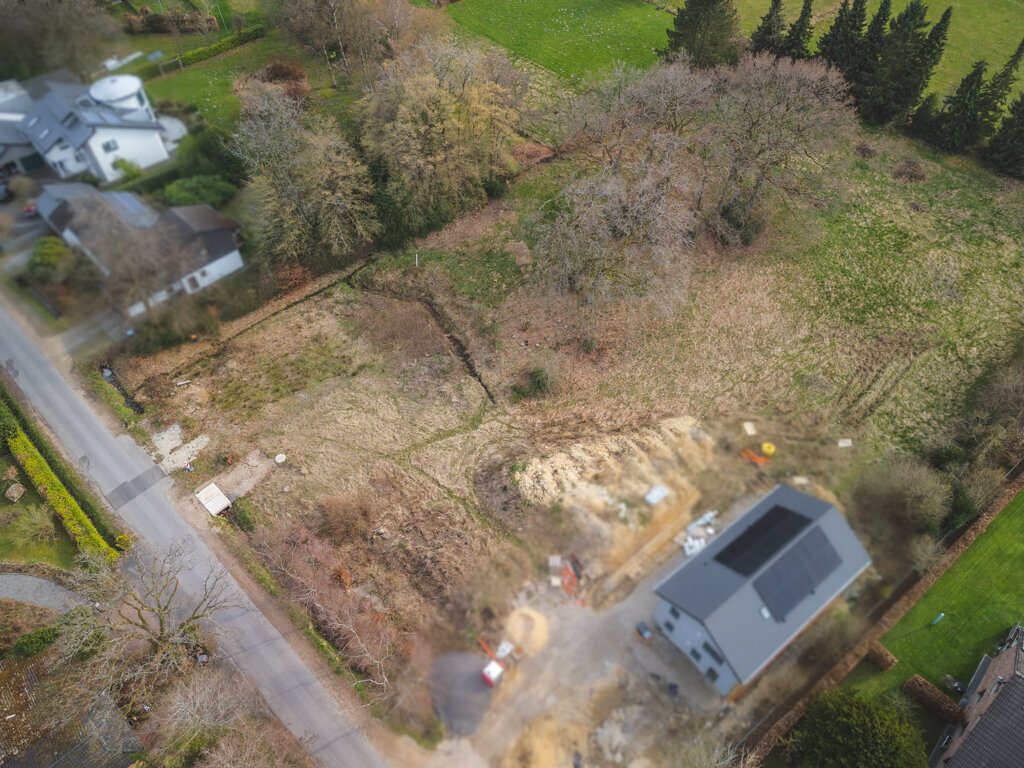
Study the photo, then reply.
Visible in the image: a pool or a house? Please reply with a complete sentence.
There is a house in the scene.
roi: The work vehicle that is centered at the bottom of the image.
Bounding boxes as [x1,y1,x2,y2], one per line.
[462,642,510,695]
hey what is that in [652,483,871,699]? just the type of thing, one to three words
house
